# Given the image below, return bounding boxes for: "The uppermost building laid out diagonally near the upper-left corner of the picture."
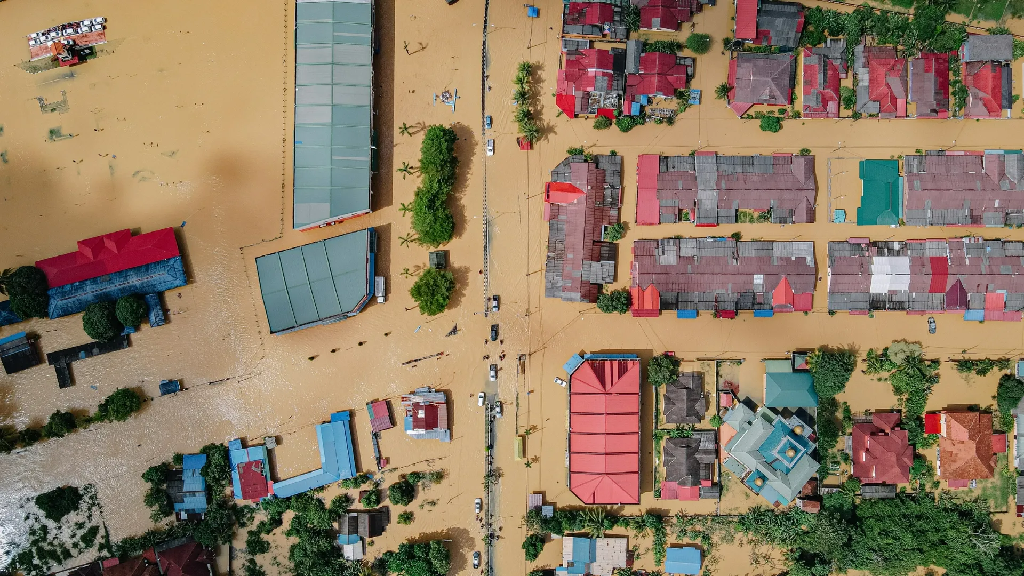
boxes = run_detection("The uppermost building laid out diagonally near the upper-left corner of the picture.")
[39,38,80,67]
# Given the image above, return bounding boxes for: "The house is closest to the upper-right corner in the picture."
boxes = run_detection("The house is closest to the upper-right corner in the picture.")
[958,35,1012,118]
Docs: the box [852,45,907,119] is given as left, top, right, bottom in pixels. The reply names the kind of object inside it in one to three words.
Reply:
house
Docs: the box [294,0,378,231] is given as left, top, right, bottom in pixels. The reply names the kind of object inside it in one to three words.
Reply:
building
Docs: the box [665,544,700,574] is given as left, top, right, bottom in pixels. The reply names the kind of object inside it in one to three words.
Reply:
house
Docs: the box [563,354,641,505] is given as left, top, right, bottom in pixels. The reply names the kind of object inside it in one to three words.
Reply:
building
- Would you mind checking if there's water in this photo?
Yes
